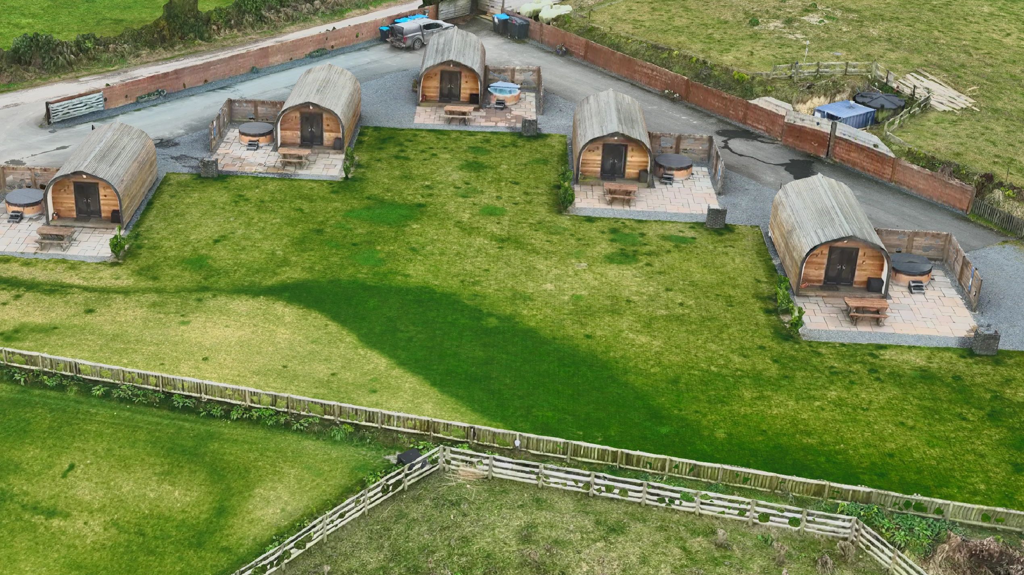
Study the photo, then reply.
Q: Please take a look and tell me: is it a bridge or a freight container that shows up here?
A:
freight container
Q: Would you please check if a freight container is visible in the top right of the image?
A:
Yes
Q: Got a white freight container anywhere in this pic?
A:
No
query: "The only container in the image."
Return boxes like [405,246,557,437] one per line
[816,100,874,130]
